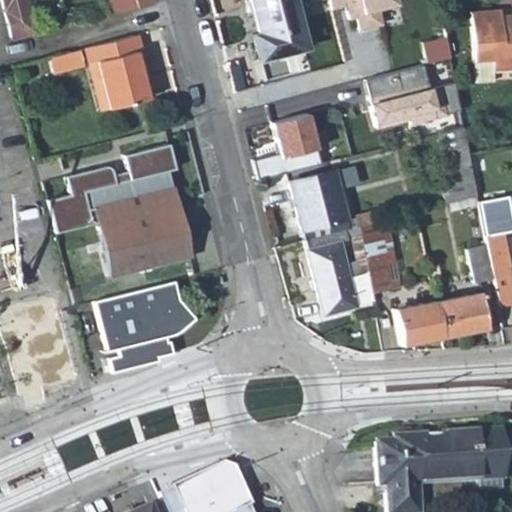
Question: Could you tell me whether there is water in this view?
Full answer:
No, the picture contains no water.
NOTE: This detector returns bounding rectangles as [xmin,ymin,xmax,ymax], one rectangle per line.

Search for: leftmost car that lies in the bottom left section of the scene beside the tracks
[10,432,33,447]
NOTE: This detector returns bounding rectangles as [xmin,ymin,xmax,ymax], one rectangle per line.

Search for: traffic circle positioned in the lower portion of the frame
[244,376,304,422]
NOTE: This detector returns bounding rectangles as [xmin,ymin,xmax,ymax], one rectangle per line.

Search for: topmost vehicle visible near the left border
[5,42,27,56]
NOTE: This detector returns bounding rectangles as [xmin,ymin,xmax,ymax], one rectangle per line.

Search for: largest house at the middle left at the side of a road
[48,144,194,278]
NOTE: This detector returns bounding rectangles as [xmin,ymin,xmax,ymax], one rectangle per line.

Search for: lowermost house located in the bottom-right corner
[368,423,512,512]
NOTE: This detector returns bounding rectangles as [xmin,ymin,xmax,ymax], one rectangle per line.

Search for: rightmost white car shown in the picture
[337,90,357,102]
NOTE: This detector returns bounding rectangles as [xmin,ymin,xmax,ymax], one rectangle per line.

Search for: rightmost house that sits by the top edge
[466,8,512,84]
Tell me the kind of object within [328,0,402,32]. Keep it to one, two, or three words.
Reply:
house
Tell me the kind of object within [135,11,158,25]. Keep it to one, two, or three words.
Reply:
car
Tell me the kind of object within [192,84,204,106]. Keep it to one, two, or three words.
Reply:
vehicle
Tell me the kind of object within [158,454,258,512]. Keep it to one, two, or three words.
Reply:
building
